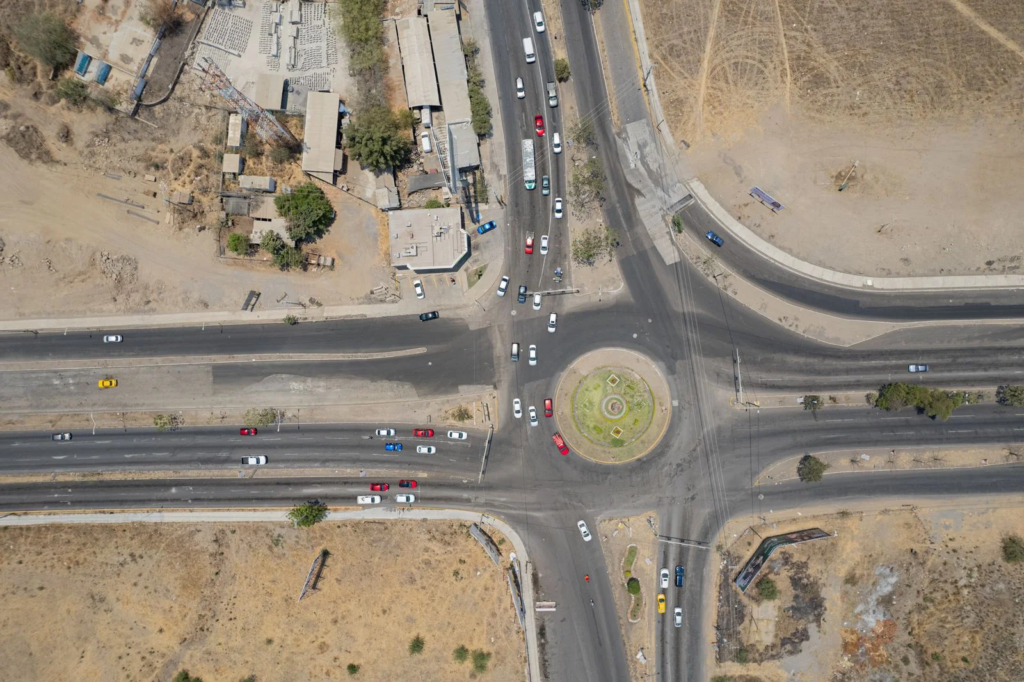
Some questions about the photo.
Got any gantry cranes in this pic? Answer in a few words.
No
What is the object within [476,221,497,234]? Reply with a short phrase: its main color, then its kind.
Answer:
blue vehicle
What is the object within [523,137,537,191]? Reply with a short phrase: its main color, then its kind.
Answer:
white vehicle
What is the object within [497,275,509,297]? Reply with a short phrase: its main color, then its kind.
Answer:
white vehicle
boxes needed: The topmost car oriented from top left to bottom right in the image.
[705,232,725,247]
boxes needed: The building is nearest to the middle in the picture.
[388,207,470,271]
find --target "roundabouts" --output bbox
[555,348,671,464]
